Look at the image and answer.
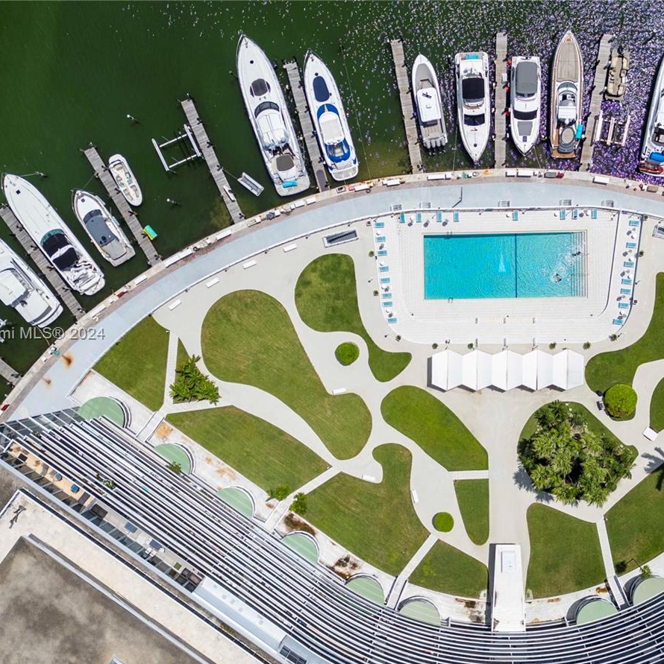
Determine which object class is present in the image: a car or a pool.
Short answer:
pool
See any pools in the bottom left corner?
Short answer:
No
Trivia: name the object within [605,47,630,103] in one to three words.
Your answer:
boat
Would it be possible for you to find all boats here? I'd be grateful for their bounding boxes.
[642,64,664,183]
[455,54,490,161]
[508,57,541,155]
[238,170,264,196]
[235,33,308,202]
[412,54,445,151]
[73,190,137,269]
[0,242,64,329]
[605,47,630,103]
[303,49,360,186]
[551,29,584,161]
[111,153,146,211]
[0,174,111,301]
